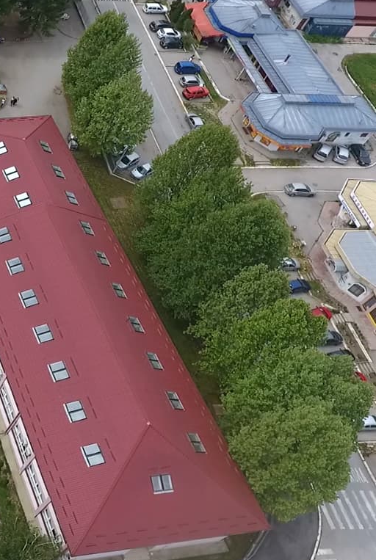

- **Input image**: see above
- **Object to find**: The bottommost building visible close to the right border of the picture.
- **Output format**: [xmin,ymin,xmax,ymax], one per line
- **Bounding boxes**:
[318,228,376,317]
